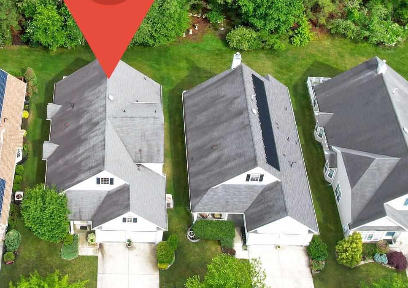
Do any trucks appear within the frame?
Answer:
No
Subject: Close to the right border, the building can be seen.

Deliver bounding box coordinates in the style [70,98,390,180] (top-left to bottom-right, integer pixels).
[312,56,408,250]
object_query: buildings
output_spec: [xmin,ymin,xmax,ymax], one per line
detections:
[181,48,320,246]
[41,53,169,243]
[0,69,28,240]
[312,56,408,250]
